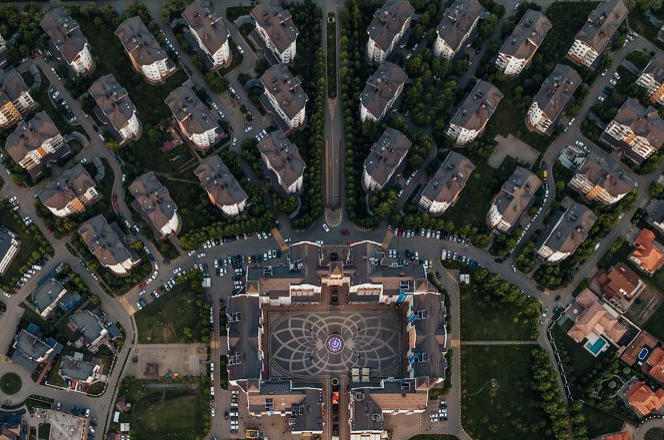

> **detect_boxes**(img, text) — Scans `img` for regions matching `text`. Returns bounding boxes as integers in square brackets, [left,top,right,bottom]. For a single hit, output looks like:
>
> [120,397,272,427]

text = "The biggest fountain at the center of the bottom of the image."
[325,335,344,353]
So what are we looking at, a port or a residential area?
residential area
